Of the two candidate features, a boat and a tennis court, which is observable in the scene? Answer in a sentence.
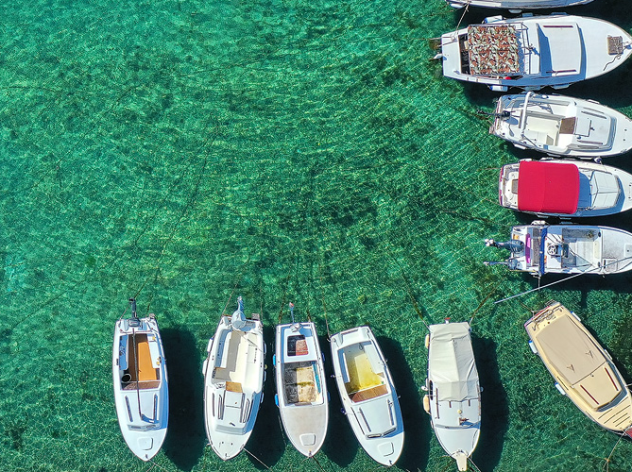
I can see a boat in this picture.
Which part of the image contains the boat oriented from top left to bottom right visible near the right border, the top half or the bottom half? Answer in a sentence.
Seen from above, the boat oriented from top left to bottom right visible near the right border lies in the bottom half of the view.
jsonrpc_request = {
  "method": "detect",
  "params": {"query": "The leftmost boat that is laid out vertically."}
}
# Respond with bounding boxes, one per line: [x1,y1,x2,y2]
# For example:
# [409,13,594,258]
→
[113,295,170,462]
